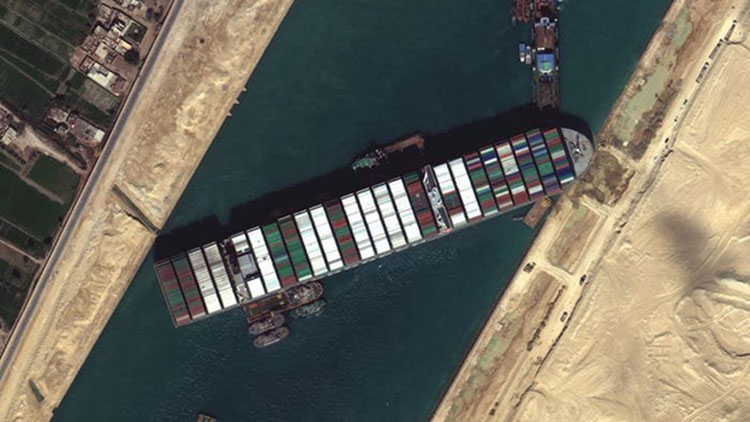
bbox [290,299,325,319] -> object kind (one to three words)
boat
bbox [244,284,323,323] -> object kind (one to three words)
ship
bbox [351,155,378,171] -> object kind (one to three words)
boat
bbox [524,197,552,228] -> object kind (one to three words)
ship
